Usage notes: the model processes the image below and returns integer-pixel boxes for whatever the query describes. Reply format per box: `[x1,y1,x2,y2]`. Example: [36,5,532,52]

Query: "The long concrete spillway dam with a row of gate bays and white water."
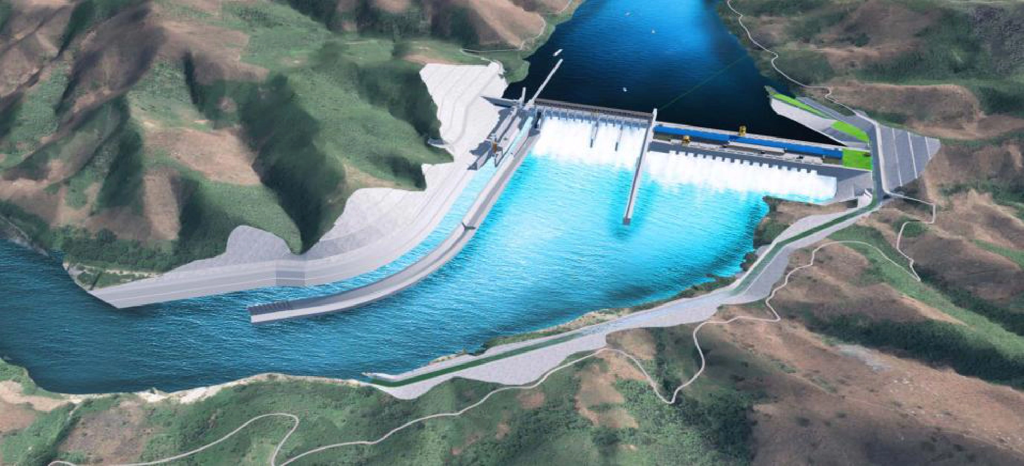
[532,99,654,138]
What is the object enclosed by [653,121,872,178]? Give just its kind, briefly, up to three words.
building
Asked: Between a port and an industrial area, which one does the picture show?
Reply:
port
